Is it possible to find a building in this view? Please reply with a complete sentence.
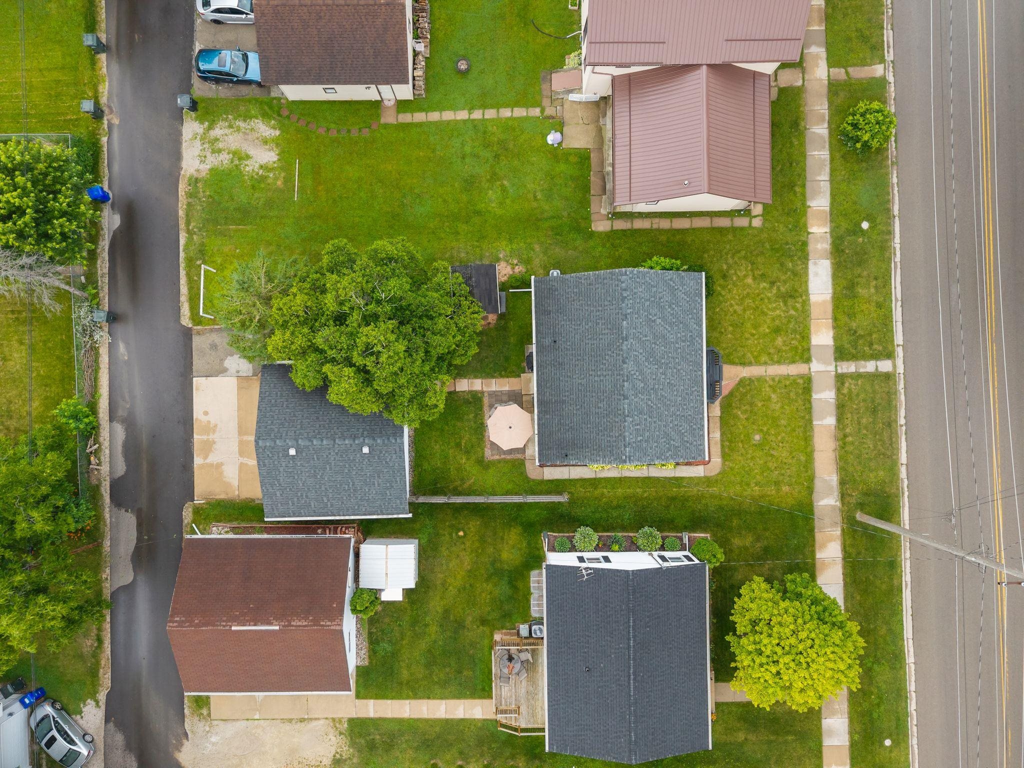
Yes, a building is visible in the scene.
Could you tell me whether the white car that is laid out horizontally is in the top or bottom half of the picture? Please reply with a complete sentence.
The white car that is laid out horizontally is in the top half of the image.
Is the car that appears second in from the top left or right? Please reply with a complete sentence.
You can find the car that appears second in from the top on the left side of the picture.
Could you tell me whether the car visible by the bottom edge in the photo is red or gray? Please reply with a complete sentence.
In this view, the car visible by the bottom edge is gray.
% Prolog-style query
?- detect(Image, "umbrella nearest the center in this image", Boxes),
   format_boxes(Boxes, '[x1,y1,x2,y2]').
[487,403,533,449]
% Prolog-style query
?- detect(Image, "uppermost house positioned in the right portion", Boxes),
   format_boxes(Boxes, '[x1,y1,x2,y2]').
[583,0,816,214]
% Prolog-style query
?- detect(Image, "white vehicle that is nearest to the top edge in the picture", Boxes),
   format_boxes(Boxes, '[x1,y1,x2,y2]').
[196,0,253,23]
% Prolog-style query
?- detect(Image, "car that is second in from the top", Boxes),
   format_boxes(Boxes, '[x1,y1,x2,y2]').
[195,39,262,84]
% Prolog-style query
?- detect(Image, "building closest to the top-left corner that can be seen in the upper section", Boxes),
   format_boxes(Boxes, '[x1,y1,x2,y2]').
[250,0,414,100]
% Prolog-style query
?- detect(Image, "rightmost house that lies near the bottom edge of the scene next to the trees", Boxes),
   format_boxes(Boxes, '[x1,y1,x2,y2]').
[541,537,713,768]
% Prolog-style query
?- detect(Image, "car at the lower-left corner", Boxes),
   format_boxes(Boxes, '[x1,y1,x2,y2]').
[28,697,98,768]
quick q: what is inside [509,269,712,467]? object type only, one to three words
house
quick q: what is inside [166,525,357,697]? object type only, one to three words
building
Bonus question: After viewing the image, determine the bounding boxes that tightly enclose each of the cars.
[196,0,253,23]
[28,697,98,768]
[195,39,262,84]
